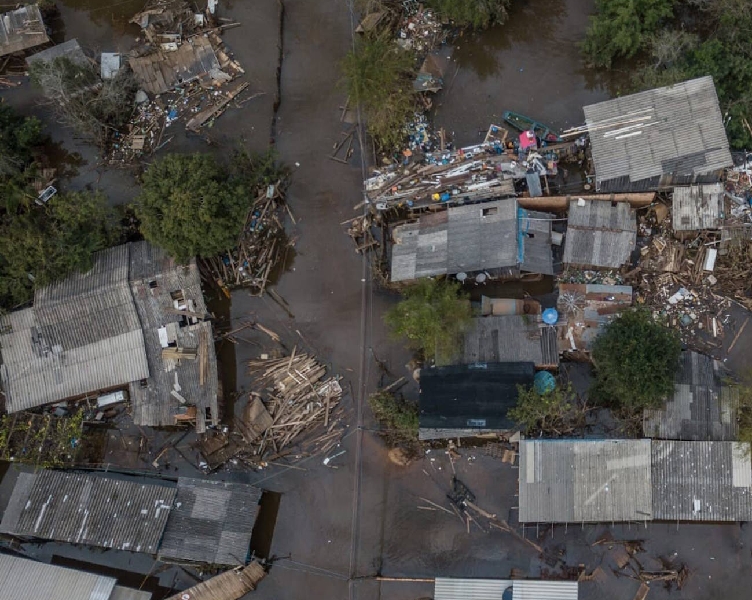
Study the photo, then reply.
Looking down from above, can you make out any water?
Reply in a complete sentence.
Yes, some water is visible.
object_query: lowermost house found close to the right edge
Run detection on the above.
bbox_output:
[511,437,752,538]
